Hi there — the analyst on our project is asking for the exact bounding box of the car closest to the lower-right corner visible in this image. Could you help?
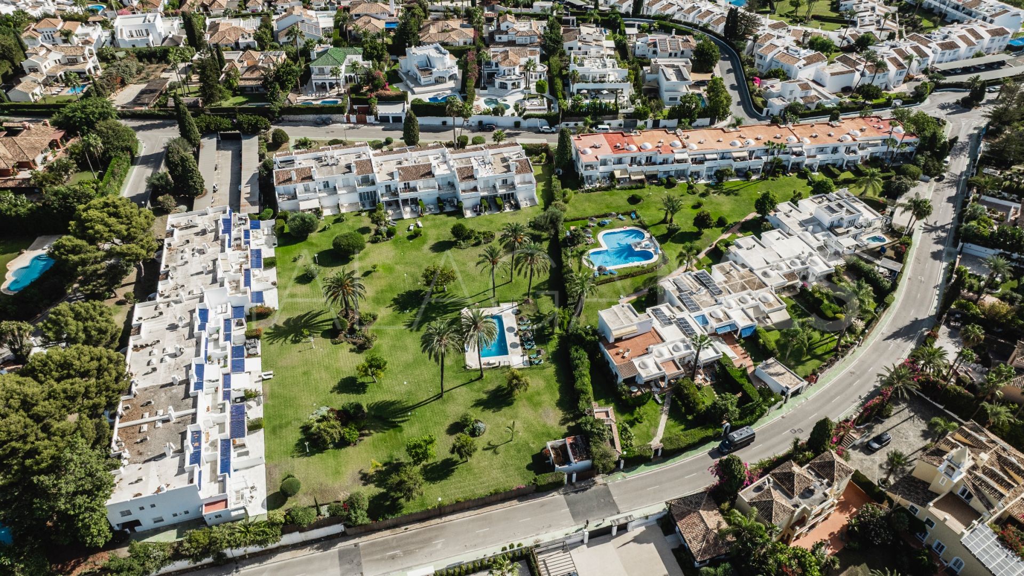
[867,432,896,452]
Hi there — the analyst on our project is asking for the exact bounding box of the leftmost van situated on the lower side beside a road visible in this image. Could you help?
[719,427,759,455]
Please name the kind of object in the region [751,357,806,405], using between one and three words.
building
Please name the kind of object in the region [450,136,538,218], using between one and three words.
house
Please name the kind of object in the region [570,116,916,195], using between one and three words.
building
